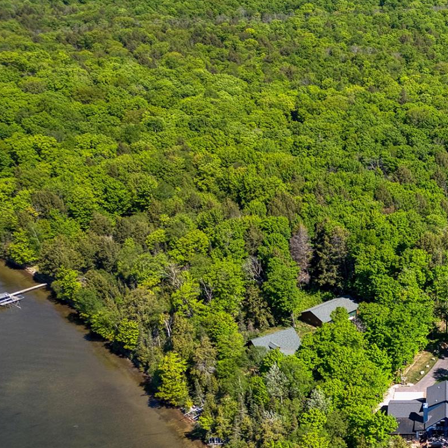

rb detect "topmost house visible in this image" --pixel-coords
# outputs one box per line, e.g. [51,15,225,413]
[302,295,354,329]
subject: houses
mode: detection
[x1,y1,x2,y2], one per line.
[247,326,303,353]
[388,379,448,442]
[302,295,354,329]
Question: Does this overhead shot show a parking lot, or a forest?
forest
